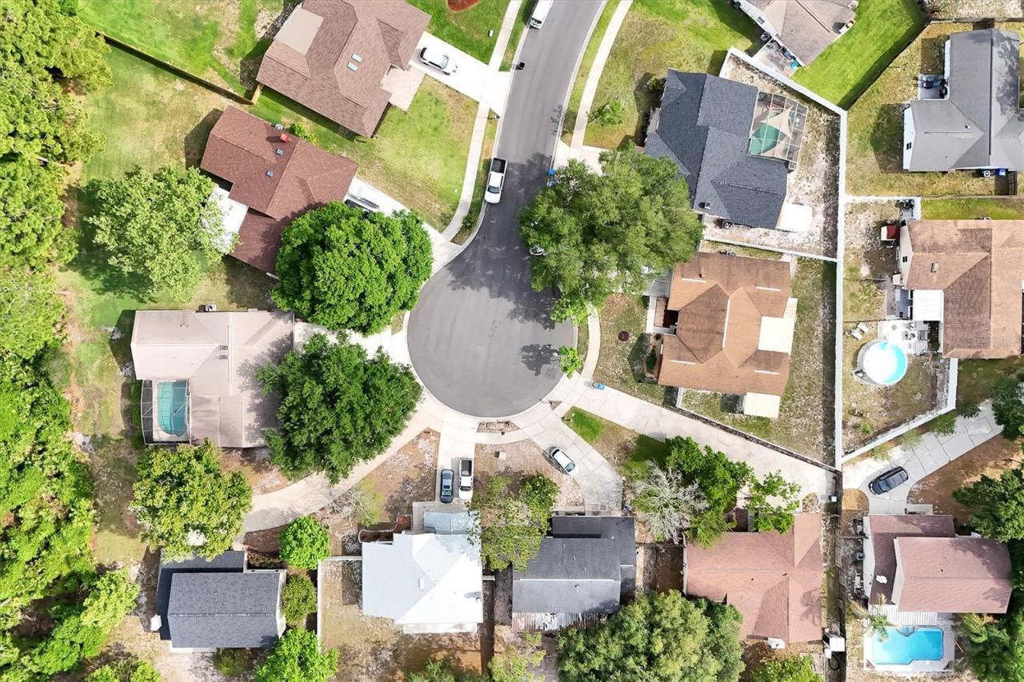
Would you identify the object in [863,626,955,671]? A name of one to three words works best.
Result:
swimming pool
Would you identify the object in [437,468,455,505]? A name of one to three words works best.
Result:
car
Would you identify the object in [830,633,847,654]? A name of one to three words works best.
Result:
shed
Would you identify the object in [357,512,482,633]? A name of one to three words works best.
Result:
house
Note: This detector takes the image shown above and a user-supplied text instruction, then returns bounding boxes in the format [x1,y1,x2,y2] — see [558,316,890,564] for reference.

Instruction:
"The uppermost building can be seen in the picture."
[746,0,858,68]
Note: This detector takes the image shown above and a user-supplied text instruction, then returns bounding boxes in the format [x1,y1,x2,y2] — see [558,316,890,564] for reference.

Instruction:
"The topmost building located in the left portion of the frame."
[256,0,432,137]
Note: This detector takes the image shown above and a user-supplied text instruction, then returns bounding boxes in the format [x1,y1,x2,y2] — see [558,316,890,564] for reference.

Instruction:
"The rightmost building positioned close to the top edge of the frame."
[902,29,1024,172]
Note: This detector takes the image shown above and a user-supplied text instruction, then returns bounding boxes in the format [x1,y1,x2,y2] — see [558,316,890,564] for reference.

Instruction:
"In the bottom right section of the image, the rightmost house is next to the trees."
[862,514,1012,625]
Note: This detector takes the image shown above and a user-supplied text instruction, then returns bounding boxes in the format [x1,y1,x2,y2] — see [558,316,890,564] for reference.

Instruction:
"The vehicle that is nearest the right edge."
[872,467,911,495]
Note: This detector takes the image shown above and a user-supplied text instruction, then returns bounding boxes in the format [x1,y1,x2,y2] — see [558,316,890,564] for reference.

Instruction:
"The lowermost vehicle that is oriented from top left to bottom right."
[543,444,577,478]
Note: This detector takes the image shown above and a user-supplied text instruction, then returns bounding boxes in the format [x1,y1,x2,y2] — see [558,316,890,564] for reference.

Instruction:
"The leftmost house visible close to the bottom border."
[146,549,289,652]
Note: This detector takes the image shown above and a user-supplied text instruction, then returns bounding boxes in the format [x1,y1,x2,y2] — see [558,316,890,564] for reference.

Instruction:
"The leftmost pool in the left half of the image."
[153,379,190,441]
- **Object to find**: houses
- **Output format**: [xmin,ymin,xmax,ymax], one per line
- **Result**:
[685,511,824,642]
[357,512,482,633]
[746,0,858,68]
[200,105,359,275]
[146,549,289,652]
[640,68,787,229]
[657,251,798,418]
[898,220,1024,359]
[131,309,296,447]
[902,29,1024,172]
[862,514,1012,625]
[256,0,432,137]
